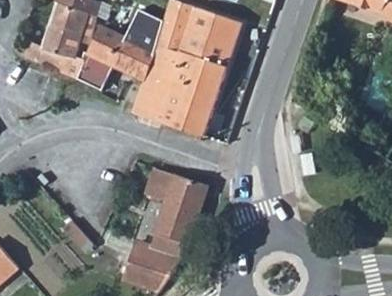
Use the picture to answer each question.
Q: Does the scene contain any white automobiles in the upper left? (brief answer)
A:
Yes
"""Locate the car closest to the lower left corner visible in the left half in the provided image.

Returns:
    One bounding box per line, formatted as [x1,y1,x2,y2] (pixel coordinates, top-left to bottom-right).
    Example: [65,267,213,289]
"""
[98,169,118,181]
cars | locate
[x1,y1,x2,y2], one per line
[5,64,22,85]
[238,176,249,198]
[237,255,248,275]
[98,169,118,181]
[0,0,6,19]
[270,199,288,220]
